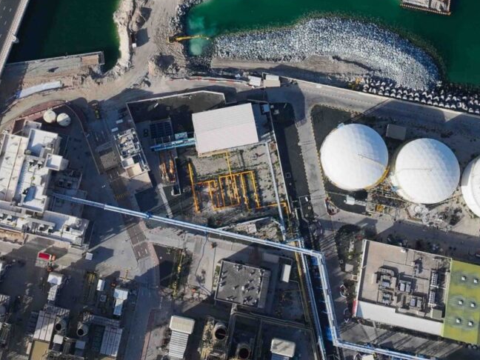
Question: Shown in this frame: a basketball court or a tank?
tank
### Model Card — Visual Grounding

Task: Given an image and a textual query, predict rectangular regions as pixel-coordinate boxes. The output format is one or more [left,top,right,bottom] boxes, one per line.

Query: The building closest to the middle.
[192,103,258,157]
